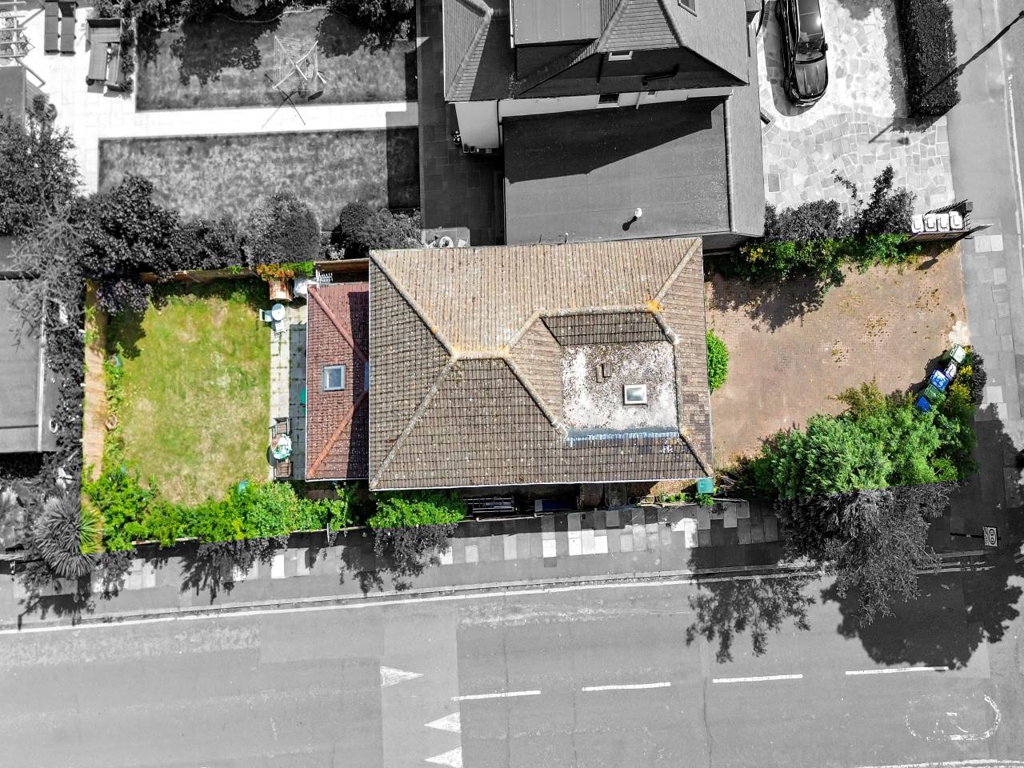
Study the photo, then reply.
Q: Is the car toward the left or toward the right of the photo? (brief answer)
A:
right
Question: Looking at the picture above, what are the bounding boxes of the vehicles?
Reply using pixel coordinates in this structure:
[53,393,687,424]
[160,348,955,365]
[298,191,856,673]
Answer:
[779,0,838,106]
